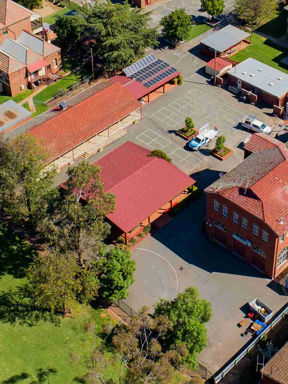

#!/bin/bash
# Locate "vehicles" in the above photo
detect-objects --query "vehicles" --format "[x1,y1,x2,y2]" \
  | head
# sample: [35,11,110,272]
[191,127,216,148]
[242,115,272,135]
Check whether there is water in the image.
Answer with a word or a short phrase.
No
